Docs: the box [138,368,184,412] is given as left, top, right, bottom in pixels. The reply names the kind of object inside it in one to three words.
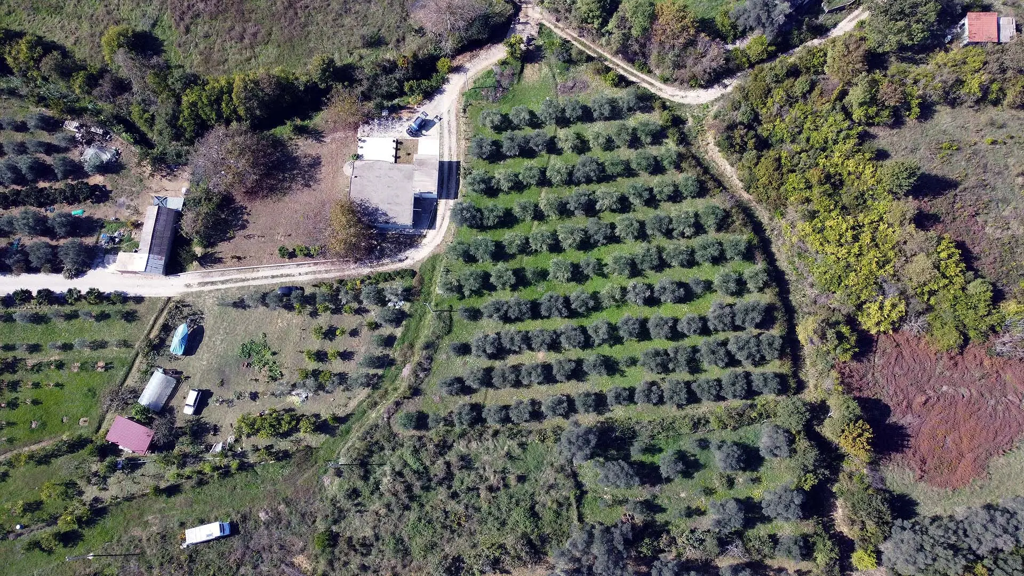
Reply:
shed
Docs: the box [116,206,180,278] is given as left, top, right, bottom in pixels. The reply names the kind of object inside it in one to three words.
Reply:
barn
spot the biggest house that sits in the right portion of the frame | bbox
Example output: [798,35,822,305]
[952,12,998,50]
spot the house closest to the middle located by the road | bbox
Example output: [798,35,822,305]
[342,155,440,230]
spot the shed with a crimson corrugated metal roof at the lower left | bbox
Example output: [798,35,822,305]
[106,415,160,455]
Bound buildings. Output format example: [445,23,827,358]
[106,415,160,455]
[342,155,440,230]
[952,12,998,50]
[116,206,180,278]
[138,368,184,412]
